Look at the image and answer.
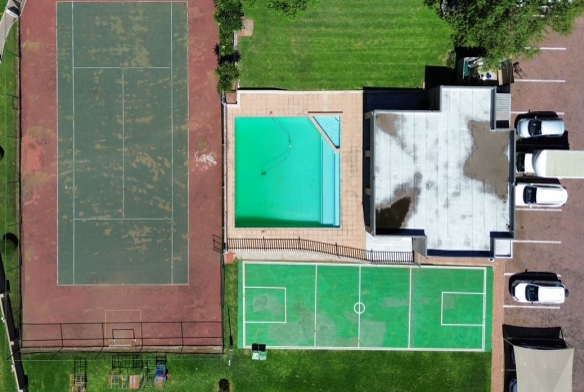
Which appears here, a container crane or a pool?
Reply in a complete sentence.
Visible in the photo is a pool.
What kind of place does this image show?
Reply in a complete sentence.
What you see here is a sports ground.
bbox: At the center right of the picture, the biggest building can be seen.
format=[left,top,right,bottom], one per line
[364,86,515,262]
